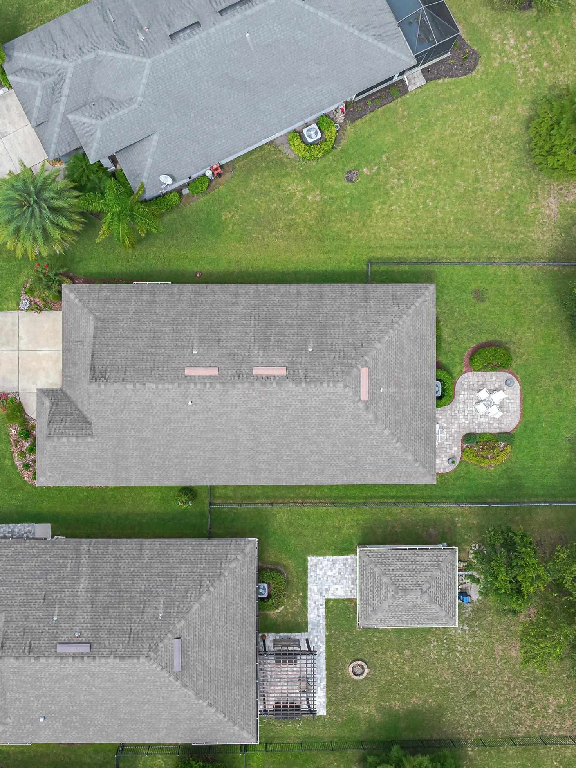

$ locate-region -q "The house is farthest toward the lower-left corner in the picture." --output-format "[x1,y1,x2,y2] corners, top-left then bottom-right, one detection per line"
[0,532,259,746]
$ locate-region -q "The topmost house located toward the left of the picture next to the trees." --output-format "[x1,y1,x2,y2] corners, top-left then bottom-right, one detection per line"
[0,0,418,205]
